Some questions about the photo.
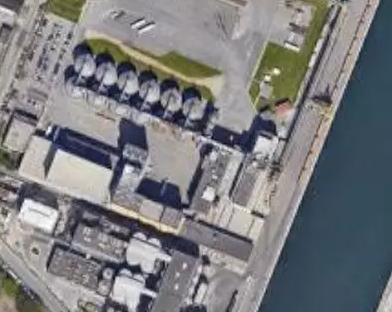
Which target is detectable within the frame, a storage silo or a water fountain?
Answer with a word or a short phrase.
storage silo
